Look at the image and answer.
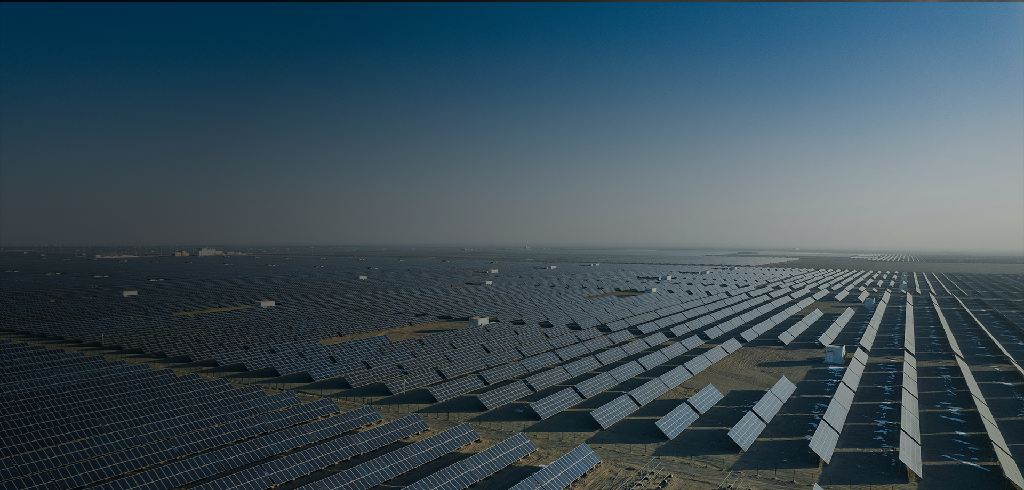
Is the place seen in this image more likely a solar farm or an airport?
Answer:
solar farm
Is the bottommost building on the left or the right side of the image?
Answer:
right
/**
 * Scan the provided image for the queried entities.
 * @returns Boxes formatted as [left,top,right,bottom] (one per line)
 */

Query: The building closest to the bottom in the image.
[823,343,847,365]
